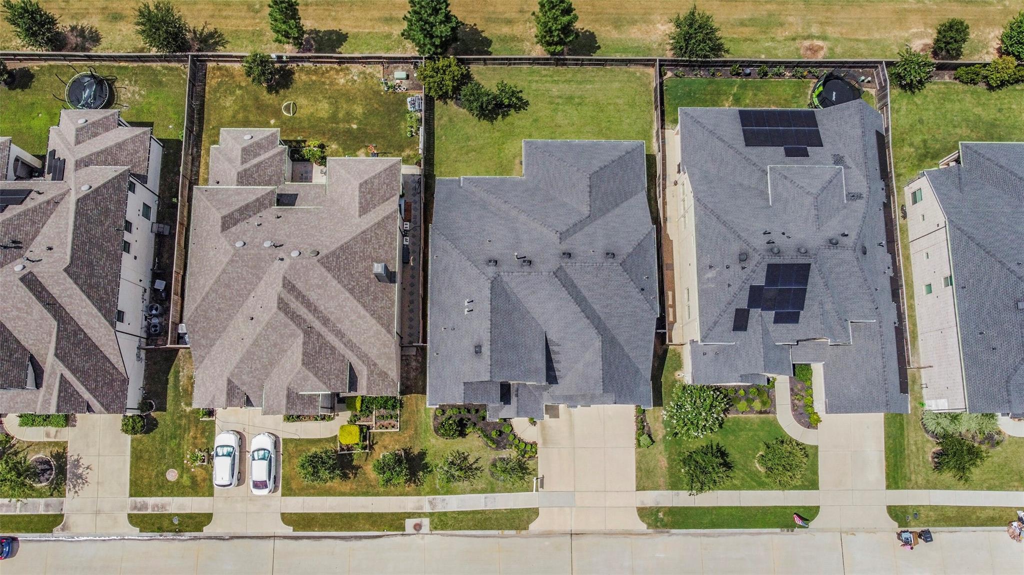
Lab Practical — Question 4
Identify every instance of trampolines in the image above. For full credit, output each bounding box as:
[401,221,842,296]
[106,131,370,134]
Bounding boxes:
[49,60,125,109]
[810,64,869,108]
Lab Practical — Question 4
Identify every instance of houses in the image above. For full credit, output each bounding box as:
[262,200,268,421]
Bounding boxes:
[908,141,1024,420]
[182,127,405,415]
[673,99,911,414]
[426,139,658,421]
[0,108,162,415]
